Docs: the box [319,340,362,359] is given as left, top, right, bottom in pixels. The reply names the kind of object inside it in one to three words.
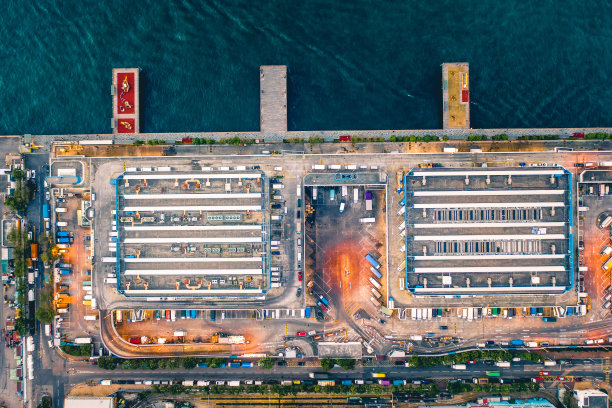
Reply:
building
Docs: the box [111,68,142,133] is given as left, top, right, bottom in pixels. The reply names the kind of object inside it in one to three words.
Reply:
pier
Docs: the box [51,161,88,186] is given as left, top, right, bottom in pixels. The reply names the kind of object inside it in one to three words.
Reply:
house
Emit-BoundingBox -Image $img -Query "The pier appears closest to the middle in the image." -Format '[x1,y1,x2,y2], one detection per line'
[260,66,287,132]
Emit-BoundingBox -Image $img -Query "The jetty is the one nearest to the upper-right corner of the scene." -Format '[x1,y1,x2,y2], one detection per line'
[440,63,469,130]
